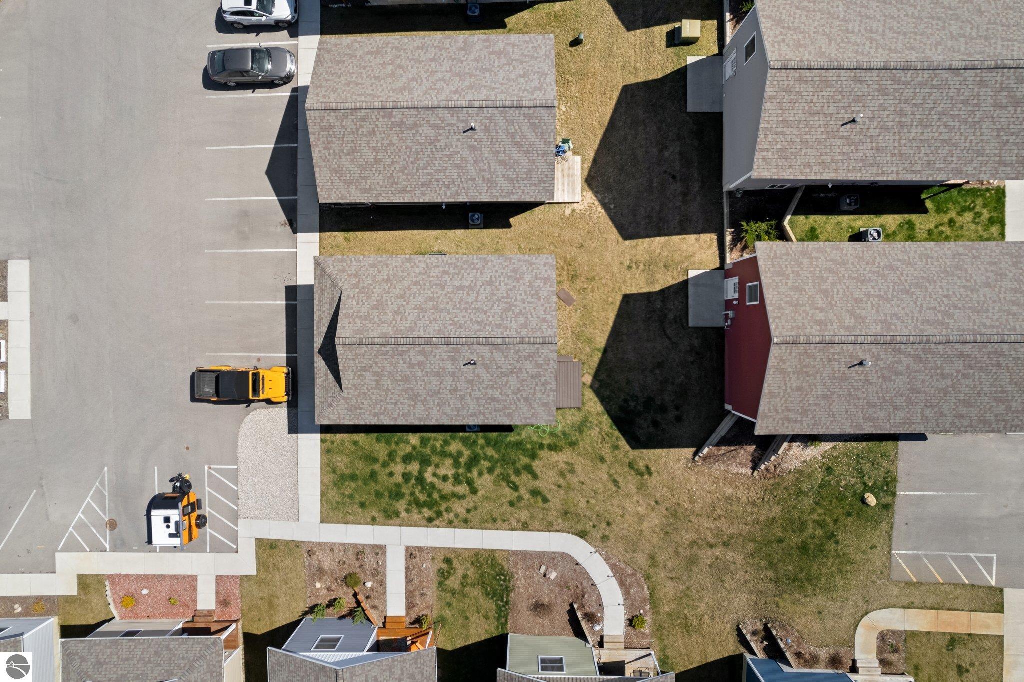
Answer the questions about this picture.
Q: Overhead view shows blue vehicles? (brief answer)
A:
No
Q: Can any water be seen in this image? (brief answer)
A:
No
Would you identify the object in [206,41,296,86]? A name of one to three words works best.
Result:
car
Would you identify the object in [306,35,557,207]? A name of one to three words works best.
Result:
house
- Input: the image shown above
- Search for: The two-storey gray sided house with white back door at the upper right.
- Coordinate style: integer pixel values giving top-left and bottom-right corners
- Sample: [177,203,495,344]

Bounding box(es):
[721,0,1024,196]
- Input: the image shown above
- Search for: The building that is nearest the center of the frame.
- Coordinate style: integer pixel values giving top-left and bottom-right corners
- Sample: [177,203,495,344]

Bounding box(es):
[314,255,559,424]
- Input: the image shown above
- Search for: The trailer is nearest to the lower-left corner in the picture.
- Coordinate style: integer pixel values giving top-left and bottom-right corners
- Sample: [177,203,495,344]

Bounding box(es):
[149,472,205,548]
